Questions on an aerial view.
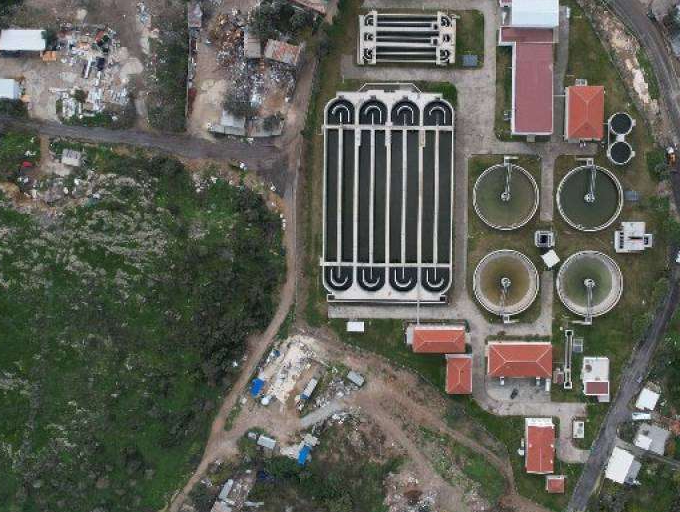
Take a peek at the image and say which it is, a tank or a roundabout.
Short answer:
tank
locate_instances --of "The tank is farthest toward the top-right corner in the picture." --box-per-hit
[606,112,635,141]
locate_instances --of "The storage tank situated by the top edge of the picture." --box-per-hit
[360,12,460,65]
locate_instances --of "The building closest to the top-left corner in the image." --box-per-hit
[0,29,50,52]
